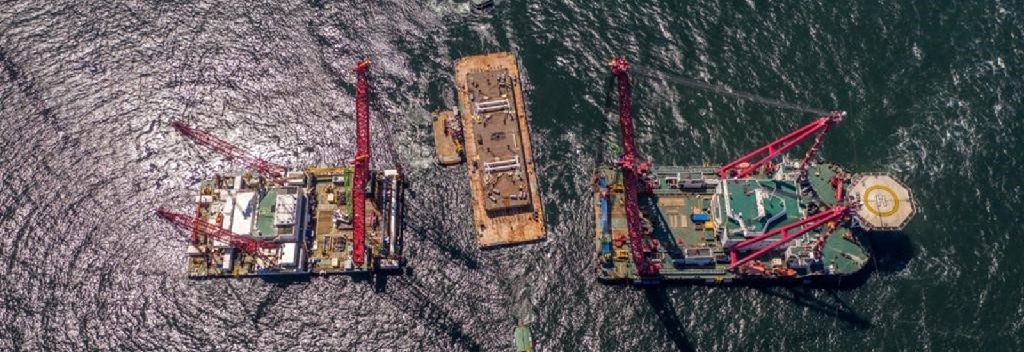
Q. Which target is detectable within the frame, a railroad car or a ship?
ship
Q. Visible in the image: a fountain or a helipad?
helipad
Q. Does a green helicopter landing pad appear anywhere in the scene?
No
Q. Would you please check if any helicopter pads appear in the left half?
No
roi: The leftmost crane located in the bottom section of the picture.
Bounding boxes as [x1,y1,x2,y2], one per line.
[154,146,403,279]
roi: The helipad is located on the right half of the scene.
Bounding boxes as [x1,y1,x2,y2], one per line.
[830,171,917,235]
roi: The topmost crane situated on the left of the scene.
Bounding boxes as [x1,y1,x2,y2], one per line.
[169,55,402,193]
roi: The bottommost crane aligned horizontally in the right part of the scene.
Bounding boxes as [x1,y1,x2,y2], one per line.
[592,157,852,283]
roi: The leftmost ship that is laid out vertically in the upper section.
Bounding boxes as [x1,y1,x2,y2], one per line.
[433,106,466,168]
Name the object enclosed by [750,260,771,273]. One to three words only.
boat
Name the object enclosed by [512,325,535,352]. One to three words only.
boat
